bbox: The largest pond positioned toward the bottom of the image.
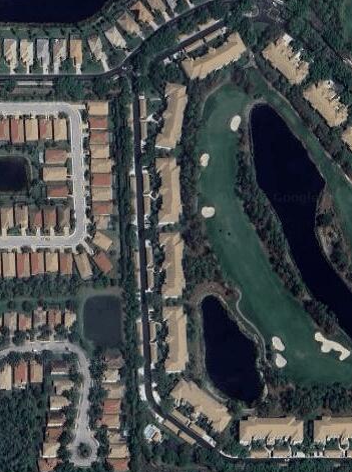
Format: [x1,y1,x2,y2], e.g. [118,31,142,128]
[82,294,126,350]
